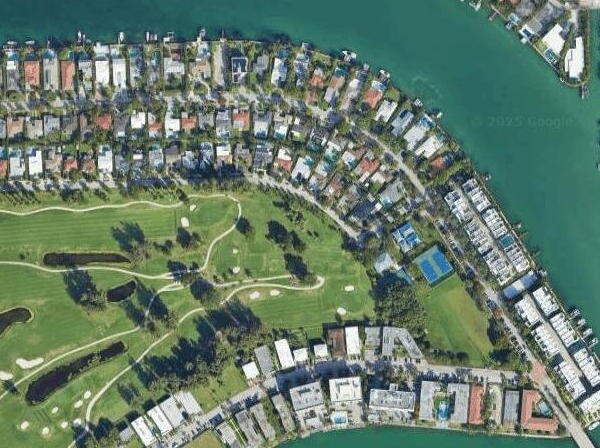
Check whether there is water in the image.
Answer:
Yes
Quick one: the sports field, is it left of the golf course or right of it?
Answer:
right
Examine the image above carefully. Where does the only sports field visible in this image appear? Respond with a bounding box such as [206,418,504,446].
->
[417,273,493,364]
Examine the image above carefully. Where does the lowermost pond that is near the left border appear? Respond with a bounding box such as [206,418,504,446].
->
[25,342,125,404]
